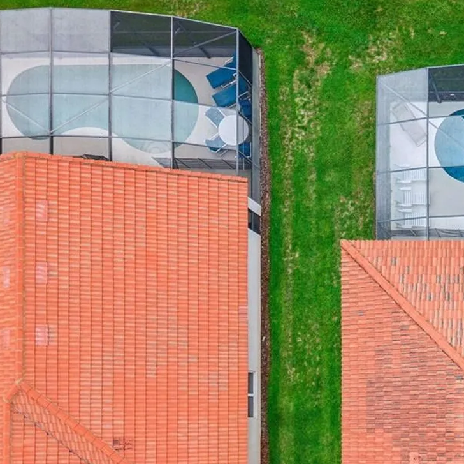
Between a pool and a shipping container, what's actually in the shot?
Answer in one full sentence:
This aerial view contains a pool.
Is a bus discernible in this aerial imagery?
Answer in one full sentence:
No, there's no bus here.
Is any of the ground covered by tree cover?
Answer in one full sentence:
No, the picture contains no tree cover.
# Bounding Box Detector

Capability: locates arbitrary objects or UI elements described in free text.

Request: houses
[338,236,464,464]
[0,151,262,464]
